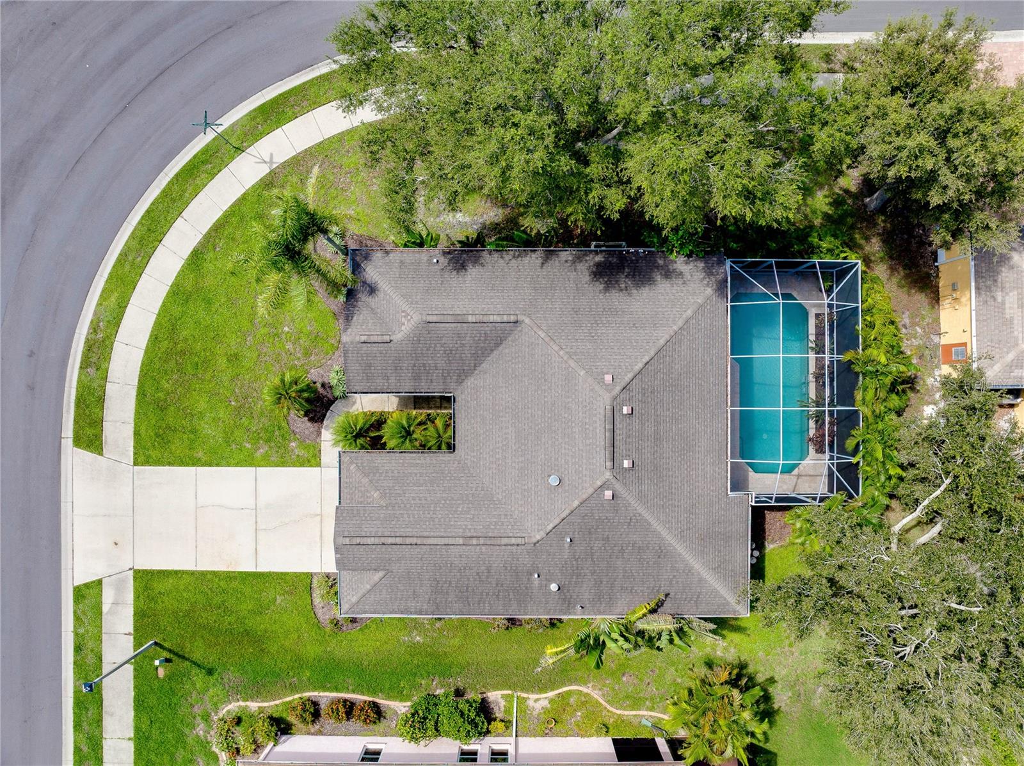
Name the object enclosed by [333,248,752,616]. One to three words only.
house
